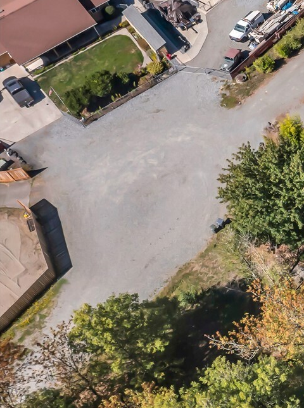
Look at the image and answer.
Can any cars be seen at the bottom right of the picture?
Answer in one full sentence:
No, no car appears at the bottom right of the picture.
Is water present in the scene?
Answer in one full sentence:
No, no water is visible.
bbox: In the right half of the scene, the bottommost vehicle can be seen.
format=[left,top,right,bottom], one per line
[216,45,241,71]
